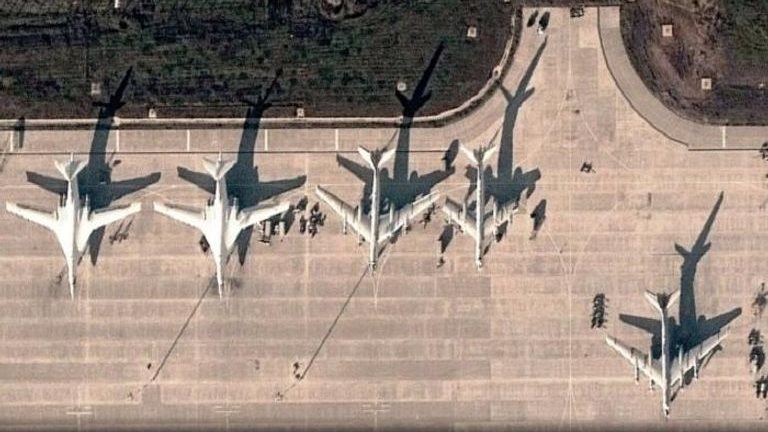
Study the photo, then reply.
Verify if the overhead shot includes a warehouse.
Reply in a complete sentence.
No, the picture doesn't show any warehouse.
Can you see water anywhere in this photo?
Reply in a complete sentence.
No, the scene doesn't show any water.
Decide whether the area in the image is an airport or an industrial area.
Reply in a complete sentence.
The picture captures an airport.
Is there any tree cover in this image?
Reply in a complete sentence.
No, there's no tree cover in this view.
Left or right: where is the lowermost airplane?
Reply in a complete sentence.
The lowermost airplane sits on the right side.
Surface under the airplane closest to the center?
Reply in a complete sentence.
In this view, the airplane closest to the center is located on the apron.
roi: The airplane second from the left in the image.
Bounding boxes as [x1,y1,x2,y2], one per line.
[154,152,286,300]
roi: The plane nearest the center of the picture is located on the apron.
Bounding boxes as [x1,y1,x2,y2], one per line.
[315,142,438,277]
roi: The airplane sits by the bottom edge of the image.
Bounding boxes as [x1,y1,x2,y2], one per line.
[603,287,726,418]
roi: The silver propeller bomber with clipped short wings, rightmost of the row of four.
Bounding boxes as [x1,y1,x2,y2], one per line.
[442,142,519,272]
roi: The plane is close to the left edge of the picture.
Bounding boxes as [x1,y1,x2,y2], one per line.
[5,151,137,298]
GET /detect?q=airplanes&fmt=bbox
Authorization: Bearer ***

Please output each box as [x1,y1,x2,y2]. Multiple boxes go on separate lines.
[5,151,137,298]
[442,142,519,272]
[315,142,438,277]
[154,152,286,300]
[603,287,726,418]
